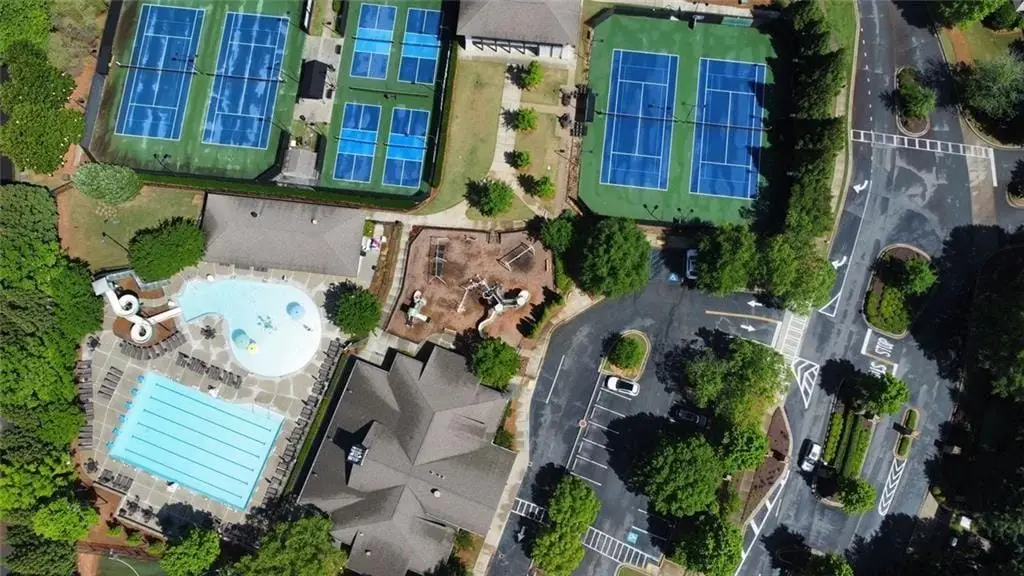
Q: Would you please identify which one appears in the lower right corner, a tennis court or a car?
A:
car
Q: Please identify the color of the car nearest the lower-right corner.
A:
white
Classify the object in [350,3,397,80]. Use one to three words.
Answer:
sports court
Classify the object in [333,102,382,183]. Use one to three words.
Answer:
sports court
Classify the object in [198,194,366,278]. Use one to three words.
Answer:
building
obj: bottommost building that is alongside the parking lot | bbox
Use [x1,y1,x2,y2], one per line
[296,344,517,576]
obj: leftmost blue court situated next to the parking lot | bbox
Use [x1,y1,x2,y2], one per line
[599,49,680,191]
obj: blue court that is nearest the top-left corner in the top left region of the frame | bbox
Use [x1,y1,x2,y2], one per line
[114,4,205,141]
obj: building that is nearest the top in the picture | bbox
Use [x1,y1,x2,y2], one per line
[456,0,577,61]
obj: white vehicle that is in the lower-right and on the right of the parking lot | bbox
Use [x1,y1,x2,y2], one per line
[799,441,823,474]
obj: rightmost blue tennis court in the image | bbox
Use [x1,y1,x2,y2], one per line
[689,57,770,200]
